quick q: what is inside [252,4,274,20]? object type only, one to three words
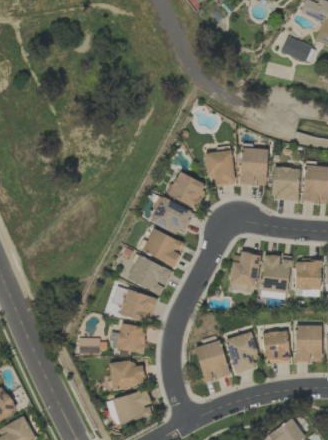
swimming pool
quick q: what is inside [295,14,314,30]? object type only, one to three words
swimming pool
